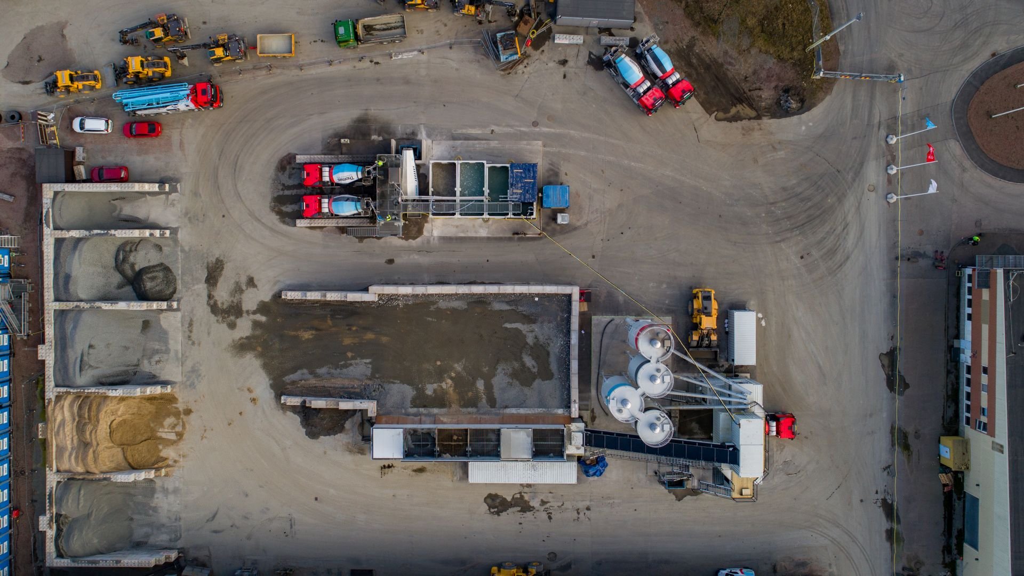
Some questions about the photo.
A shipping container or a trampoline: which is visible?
shipping container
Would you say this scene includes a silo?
Yes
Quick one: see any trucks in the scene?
Yes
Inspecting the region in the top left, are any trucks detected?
Yes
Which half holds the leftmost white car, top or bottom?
top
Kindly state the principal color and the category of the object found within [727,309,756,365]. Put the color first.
white shipping container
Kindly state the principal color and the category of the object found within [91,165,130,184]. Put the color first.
red car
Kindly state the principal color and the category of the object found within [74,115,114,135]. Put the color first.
white car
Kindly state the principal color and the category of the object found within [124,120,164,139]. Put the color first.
red car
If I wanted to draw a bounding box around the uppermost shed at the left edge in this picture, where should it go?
[33,148,82,184]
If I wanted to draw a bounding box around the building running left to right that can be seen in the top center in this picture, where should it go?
[555,0,636,34]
